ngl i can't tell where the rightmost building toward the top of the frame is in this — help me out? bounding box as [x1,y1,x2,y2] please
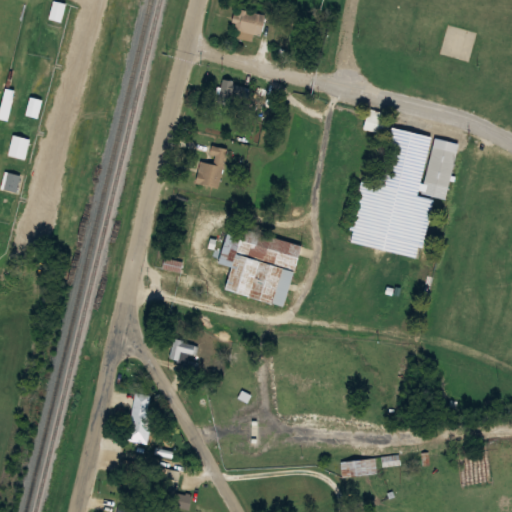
[420,138,460,200]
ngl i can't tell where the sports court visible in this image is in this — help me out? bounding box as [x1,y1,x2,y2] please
[440,24,478,62]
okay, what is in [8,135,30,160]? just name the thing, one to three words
shed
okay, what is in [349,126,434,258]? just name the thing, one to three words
building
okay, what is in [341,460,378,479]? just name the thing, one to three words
barn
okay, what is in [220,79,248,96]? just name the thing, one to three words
house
